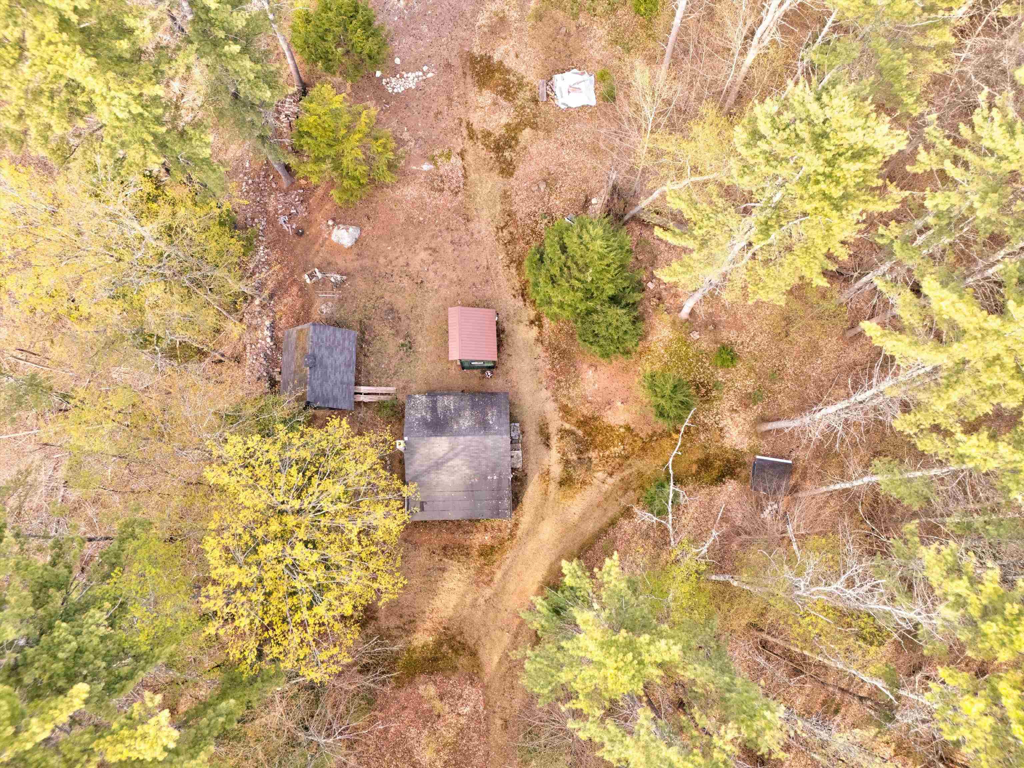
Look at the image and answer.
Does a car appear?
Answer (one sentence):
No, there is no car in the image.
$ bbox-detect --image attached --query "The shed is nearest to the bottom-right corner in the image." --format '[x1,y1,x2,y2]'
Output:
[748,454,793,495]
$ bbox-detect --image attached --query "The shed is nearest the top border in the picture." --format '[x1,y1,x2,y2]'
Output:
[448,305,502,367]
